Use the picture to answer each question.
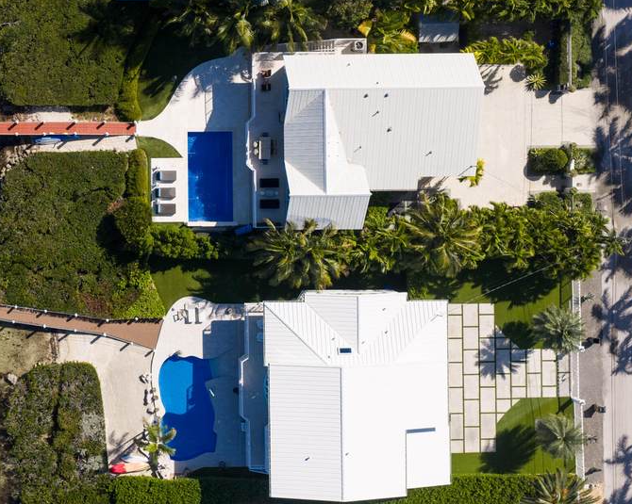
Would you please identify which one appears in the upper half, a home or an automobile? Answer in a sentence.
You can see a home in the upper half.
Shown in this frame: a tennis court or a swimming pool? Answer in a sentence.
It is a swimming pool that can be seen here.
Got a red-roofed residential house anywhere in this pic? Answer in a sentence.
No, I find no red-roofed residential house anywhere in the image.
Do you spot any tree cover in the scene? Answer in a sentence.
Yes, tree cover shows up in the scene.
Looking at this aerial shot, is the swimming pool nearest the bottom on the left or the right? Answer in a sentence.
The swimming pool nearest the bottom appears in the left half of the scene.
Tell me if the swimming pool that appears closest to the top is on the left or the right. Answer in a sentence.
The swimming pool that appears closest to the top is on the left side of the image.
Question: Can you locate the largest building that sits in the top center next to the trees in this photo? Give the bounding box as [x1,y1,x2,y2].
[246,39,485,231]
